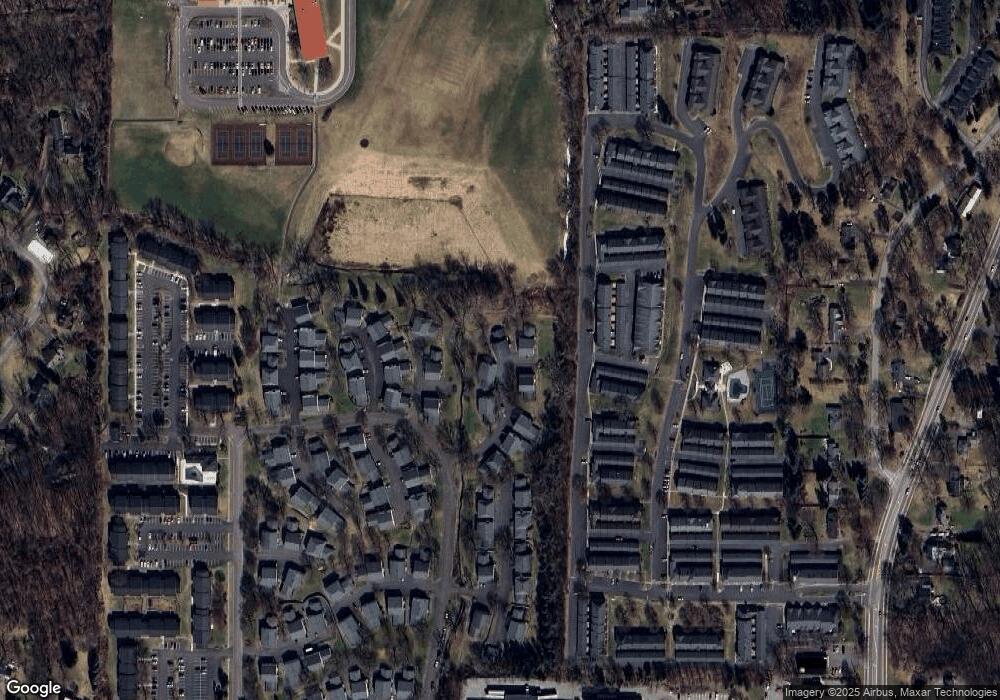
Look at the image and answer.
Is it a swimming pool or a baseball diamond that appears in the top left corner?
baseball diamond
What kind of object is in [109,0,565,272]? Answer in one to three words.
sports field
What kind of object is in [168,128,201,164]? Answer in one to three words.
baseball field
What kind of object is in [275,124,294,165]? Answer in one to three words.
tennis court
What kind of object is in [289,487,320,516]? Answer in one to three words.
house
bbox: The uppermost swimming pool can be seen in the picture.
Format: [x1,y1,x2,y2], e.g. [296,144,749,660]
[727,369,749,402]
